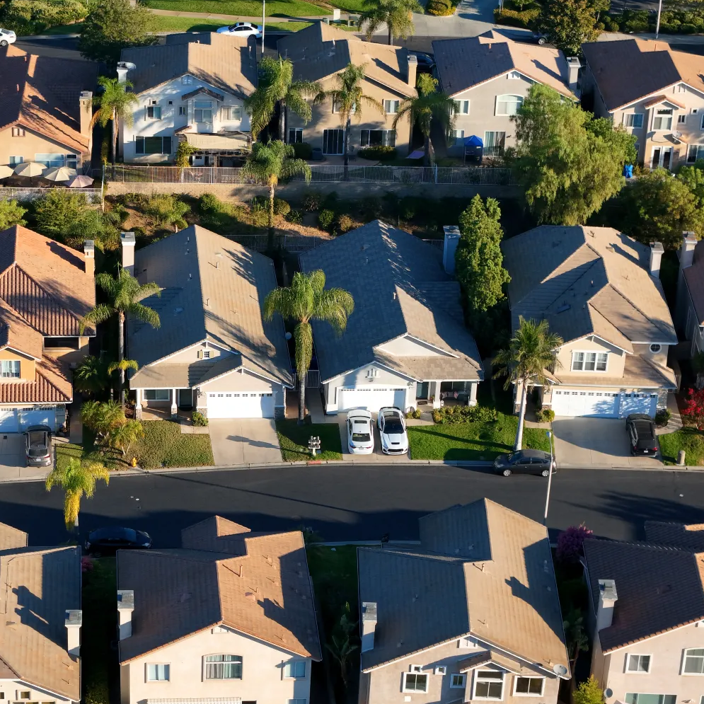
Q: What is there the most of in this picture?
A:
buildings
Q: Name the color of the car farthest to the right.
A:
black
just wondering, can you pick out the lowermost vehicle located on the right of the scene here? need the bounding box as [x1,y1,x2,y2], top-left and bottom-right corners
[492,449,558,480]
